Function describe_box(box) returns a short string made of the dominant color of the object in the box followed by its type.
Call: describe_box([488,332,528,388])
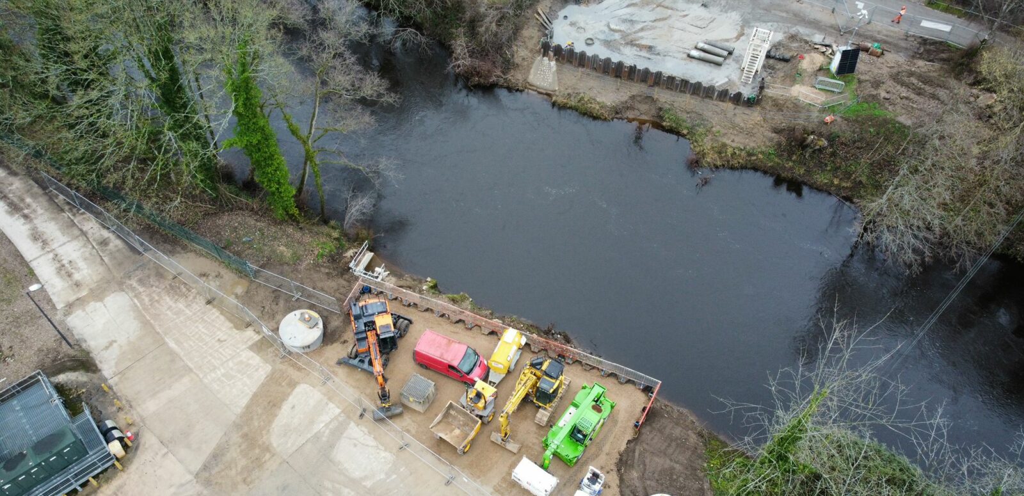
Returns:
yellow trailer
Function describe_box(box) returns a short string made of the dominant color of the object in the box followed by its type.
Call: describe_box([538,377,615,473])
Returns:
green work vehicle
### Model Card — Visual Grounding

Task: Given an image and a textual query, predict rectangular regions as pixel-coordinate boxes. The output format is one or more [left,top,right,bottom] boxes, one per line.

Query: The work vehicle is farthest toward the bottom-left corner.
[337,296,426,422]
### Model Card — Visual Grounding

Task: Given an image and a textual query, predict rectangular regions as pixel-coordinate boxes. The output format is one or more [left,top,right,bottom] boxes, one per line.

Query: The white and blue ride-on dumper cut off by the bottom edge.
[563,467,605,496]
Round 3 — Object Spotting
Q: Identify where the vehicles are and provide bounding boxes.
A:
[337,296,426,422]
[563,467,605,496]
[538,377,615,473]
[429,380,497,453]
[415,330,493,388]
[483,354,572,460]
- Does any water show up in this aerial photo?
Yes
